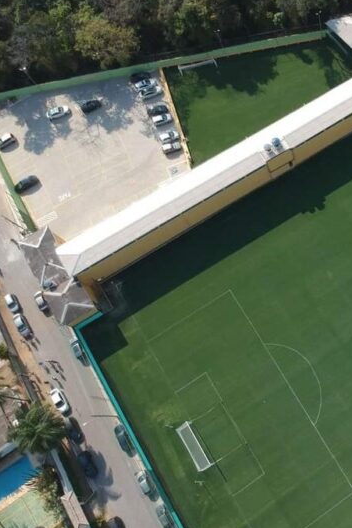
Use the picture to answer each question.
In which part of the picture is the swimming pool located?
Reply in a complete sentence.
The swimming pool is in the bottom left part of the image.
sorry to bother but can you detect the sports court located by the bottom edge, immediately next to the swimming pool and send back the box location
[0,484,64,528]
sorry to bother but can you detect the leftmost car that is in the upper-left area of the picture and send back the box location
[0,130,20,150]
